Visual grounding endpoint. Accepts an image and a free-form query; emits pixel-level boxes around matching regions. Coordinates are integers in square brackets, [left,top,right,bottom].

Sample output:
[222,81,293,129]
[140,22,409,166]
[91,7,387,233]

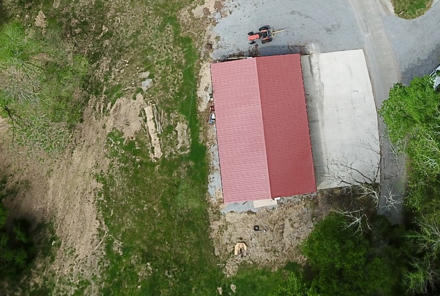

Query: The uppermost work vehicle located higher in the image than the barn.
[246,25,273,44]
